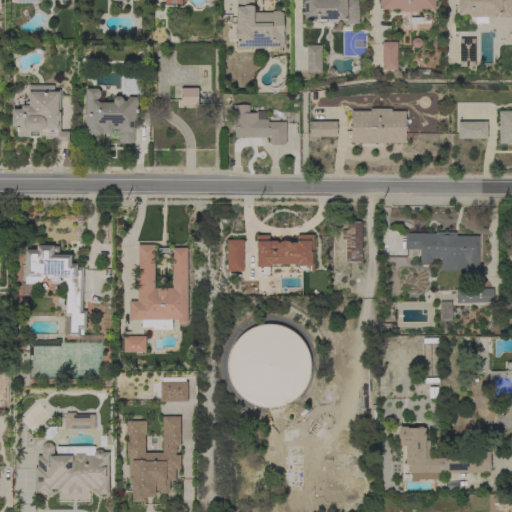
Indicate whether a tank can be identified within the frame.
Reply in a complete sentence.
Yes, the photo shows a tank.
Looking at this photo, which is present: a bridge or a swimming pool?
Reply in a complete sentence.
Of the two, only a swimming pool appears.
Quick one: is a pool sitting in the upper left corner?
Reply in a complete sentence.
Yes, a pool can be seen in the upper left corner.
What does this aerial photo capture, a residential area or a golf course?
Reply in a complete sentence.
It's a residential area.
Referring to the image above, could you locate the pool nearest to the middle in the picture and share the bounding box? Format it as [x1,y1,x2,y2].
[281,277,302,292]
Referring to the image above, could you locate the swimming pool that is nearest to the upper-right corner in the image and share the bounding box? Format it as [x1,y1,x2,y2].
[481,32,494,63]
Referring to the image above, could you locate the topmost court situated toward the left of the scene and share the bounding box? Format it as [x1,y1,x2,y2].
[33,342,103,378]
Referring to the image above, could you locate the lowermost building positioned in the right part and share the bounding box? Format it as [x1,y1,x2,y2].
[400,427,493,481]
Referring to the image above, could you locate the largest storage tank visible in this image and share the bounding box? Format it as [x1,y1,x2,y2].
[228,324,312,408]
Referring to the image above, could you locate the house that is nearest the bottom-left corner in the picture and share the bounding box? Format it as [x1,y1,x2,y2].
[38,441,111,504]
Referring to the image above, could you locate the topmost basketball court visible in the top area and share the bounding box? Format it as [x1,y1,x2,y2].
[344,31,368,56]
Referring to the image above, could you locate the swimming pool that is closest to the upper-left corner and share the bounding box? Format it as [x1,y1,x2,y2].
[22,14,48,32]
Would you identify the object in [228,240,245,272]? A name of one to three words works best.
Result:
building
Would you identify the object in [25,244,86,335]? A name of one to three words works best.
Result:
house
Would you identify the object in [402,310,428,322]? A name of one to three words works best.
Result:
swimming pool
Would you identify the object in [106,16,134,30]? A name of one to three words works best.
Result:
swimming pool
